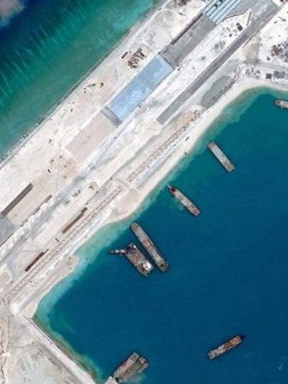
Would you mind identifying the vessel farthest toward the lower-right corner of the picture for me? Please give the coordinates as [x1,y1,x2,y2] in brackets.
[205,335,245,358]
